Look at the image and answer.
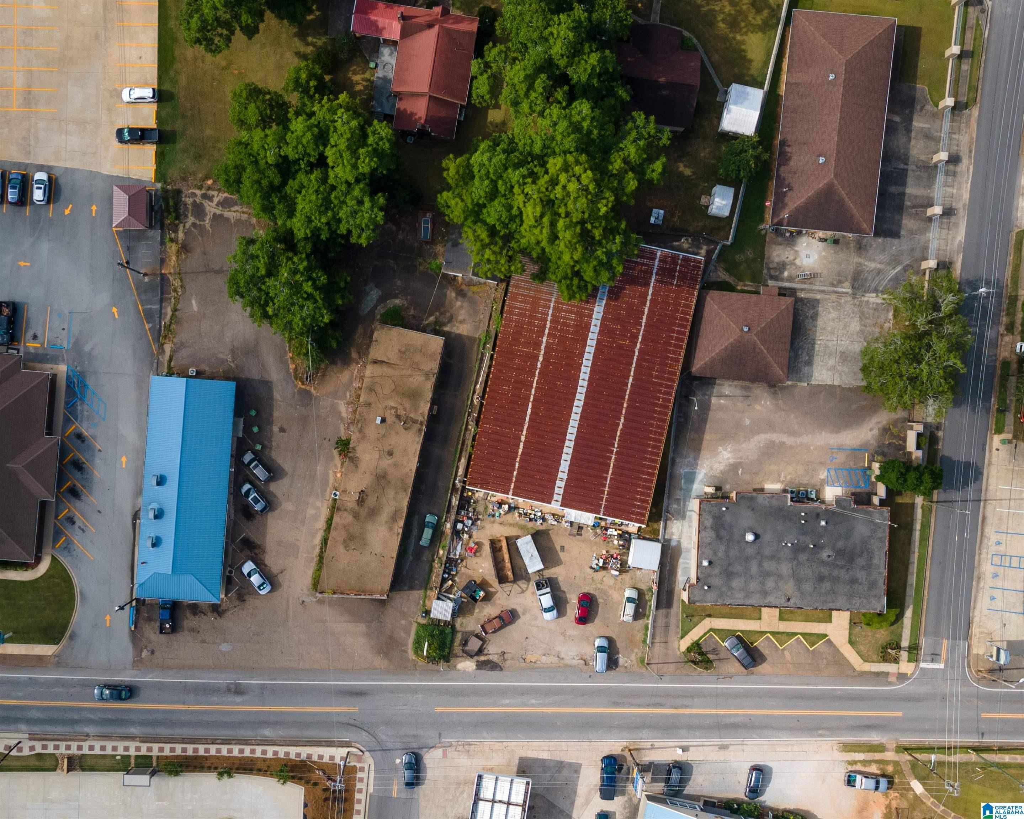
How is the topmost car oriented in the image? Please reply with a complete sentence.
The topmost car is oriented horizontally.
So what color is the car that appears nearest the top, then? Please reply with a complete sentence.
From above, the car that appears nearest the top appears white.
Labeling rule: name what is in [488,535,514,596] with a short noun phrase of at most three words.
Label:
trailer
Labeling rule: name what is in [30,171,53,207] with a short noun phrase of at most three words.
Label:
car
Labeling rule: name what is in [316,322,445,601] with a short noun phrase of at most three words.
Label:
building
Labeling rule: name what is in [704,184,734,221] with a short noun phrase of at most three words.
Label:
shed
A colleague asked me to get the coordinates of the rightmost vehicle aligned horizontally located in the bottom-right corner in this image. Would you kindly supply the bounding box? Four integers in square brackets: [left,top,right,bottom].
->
[842,770,887,793]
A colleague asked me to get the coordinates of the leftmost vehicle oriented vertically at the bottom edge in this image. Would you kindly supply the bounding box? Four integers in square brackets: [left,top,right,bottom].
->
[400,750,418,789]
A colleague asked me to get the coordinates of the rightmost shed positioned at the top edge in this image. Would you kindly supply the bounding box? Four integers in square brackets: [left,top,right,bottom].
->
[766,8,898,237]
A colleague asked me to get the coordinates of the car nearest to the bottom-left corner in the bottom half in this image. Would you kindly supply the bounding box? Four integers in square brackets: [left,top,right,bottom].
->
[95,683,133,702]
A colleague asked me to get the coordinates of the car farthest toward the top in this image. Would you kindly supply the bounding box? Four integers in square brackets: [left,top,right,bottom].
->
[123,85,161,105]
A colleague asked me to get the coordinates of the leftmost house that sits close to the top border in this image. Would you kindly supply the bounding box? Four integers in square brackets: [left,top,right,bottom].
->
[351,0,479,144]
